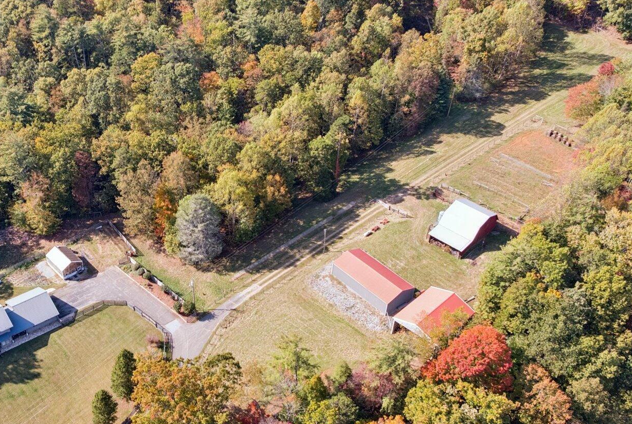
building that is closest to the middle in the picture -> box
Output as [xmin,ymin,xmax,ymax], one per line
[332,248,416,314]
